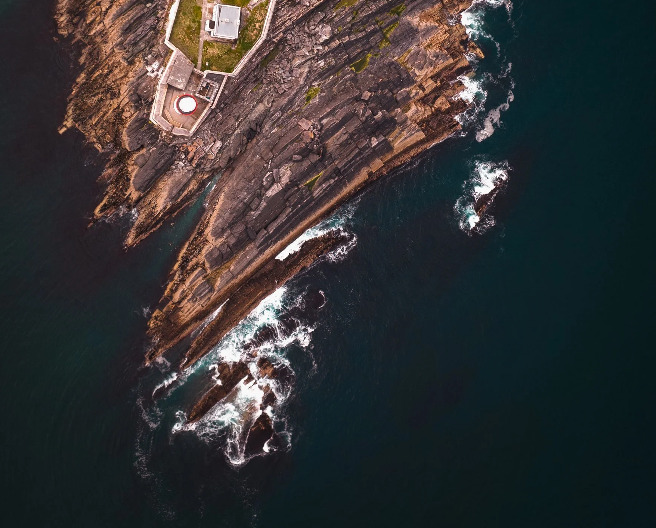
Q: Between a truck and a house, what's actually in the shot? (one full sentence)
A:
The image shows a house.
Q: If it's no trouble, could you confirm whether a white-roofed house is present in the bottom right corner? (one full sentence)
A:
No, the scene shows no white-roofed house in the bottom right corner.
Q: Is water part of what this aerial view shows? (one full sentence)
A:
Yes, there is water in the image.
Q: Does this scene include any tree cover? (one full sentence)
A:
No, no tree cover is visible.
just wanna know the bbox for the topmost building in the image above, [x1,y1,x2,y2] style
[204,3,241,41]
